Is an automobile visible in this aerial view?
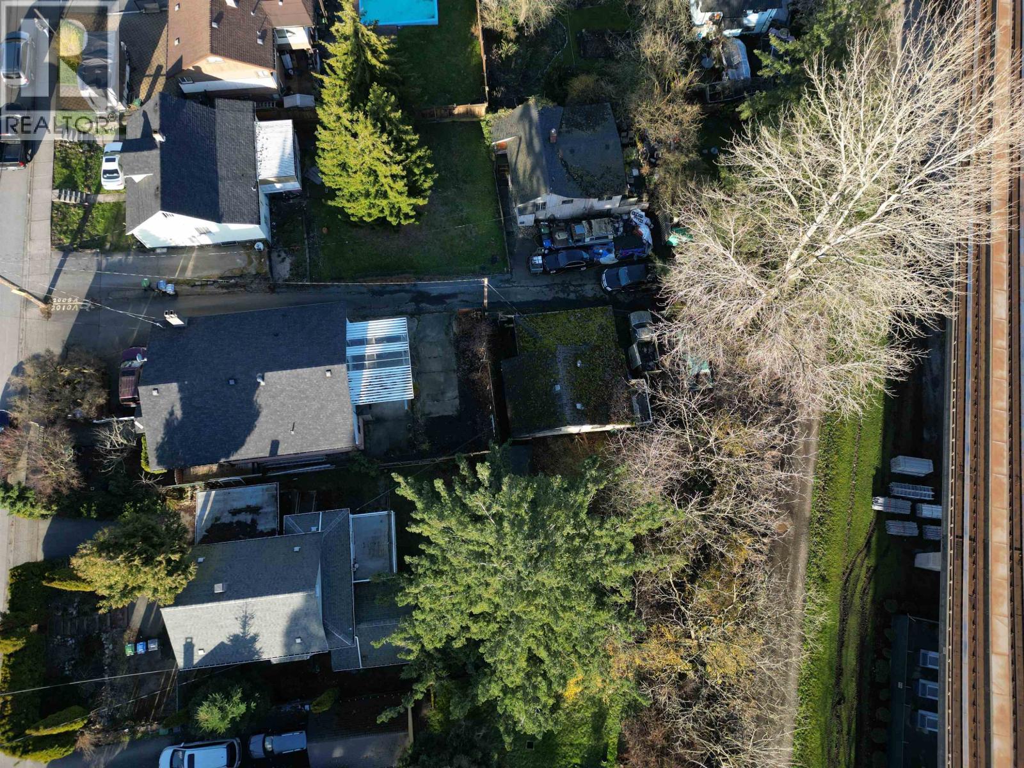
Yes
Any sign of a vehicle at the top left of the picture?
Yes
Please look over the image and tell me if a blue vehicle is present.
Yes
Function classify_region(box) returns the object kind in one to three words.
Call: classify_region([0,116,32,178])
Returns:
truck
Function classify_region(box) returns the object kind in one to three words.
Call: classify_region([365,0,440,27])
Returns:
swimming pool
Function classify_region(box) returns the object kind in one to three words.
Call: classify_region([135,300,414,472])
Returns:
house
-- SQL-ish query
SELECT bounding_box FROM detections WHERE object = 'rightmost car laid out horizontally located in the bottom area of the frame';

[242,726,309,763]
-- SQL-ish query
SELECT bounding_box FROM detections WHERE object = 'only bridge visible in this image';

[928,0,1024,768]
